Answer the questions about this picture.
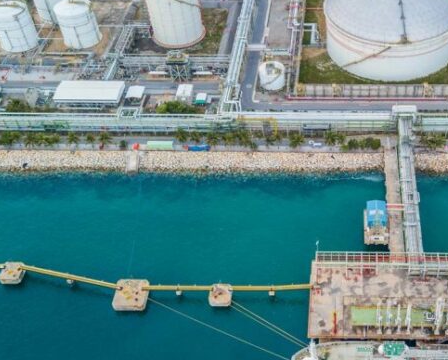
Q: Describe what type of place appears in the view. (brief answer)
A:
industrial area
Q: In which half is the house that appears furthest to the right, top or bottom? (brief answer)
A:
top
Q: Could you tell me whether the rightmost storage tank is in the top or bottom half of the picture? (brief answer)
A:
top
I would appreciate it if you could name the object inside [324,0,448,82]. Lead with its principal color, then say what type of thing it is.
white storage tank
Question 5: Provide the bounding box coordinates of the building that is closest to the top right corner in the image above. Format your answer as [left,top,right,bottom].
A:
[390,105,418,132]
